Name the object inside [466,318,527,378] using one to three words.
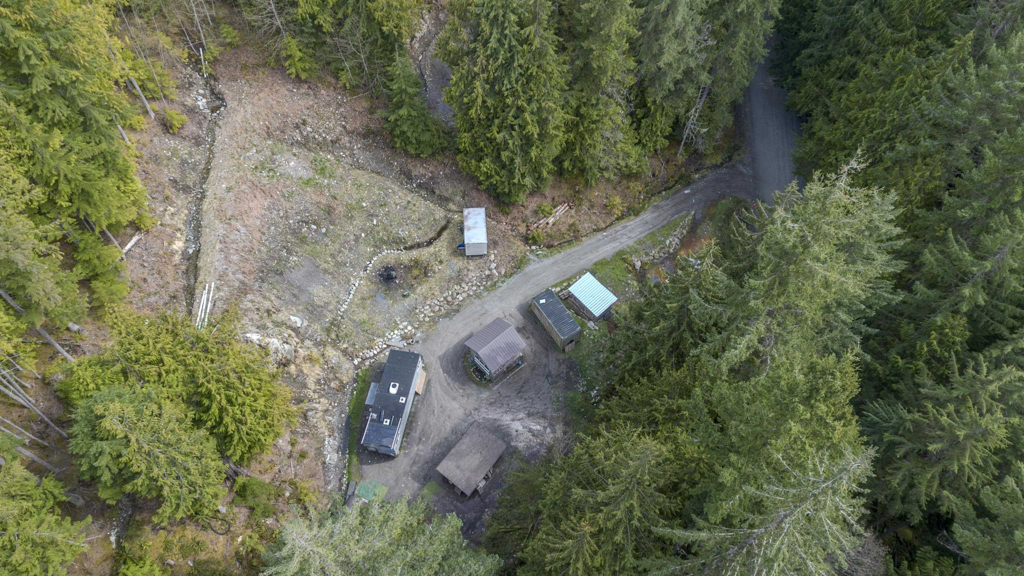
building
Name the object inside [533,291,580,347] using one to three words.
shipping container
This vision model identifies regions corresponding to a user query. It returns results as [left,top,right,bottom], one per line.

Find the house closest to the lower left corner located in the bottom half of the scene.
[360,350,422,456]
